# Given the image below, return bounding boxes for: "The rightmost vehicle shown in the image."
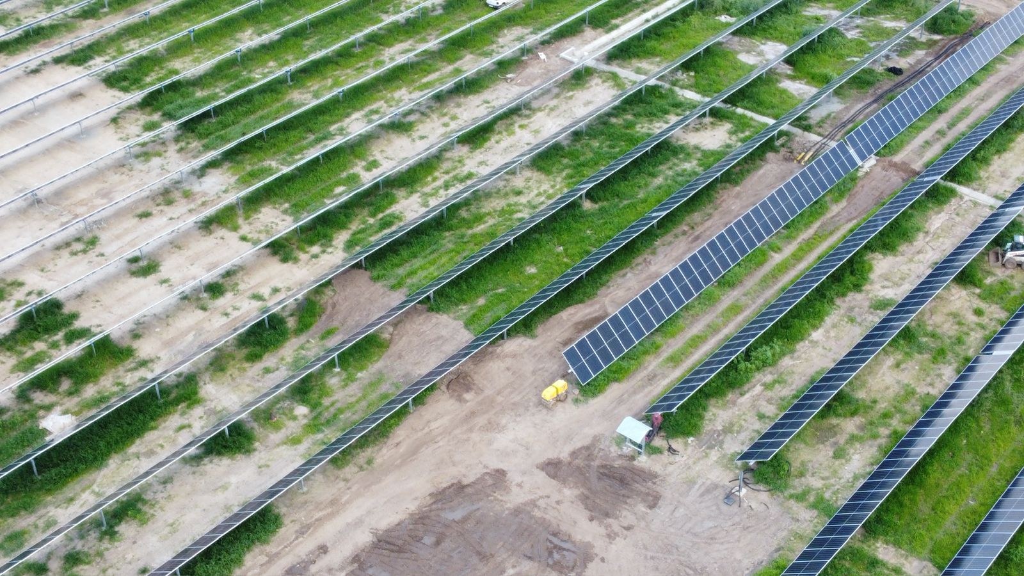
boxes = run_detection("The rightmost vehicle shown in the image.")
[992,238,1024,271]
